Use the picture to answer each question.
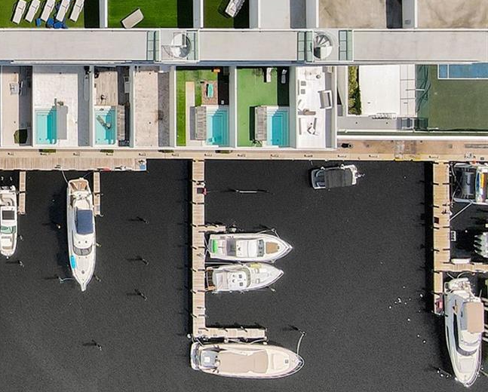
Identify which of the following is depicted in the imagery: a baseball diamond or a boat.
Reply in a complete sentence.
Looking from above, you can make out a boat.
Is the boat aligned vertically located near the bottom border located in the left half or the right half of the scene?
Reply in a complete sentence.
The boat aligned vertically located near the bottom border is on the right side of the image.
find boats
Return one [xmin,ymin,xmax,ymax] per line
[204,259,285,291]
[309,162,365,188]
[205,232,294,261]
[469,233,488,257]
[61,177,95,295]
[449,167,488,200]
[437,274,488,387]
[186,338,305,377]
[0,177,18,258]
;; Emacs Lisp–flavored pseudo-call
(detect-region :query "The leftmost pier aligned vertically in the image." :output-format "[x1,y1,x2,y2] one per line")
[15,172,29,215]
